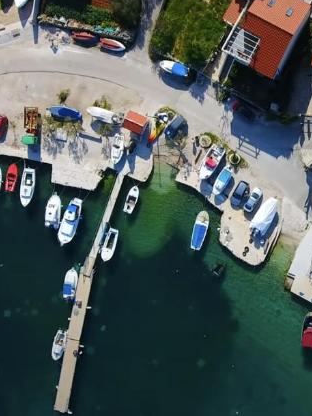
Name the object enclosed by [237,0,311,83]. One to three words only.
house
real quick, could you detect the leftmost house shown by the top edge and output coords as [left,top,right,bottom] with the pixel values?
[222,0,245,30]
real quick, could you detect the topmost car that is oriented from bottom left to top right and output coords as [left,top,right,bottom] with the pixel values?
[163,112,187,139]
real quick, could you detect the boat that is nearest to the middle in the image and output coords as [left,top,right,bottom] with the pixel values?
[123,182,142,216]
